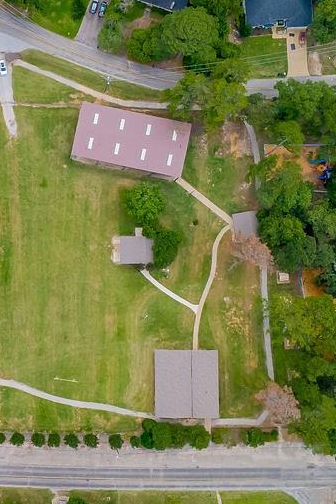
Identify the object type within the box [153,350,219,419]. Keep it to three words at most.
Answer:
building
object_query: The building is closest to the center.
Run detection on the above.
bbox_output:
[112,228,153,265]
